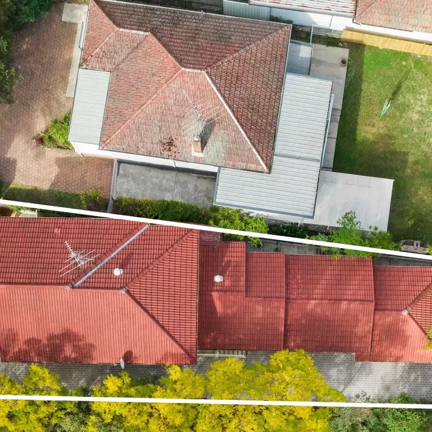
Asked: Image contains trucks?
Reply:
No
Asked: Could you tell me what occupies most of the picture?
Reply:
buildings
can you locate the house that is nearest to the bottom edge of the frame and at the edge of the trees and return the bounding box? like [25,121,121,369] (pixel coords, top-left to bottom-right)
[0,215,432,366]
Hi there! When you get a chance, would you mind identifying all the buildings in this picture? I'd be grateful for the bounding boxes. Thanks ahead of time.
[67,0,337,223]
[0,215,432,366]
